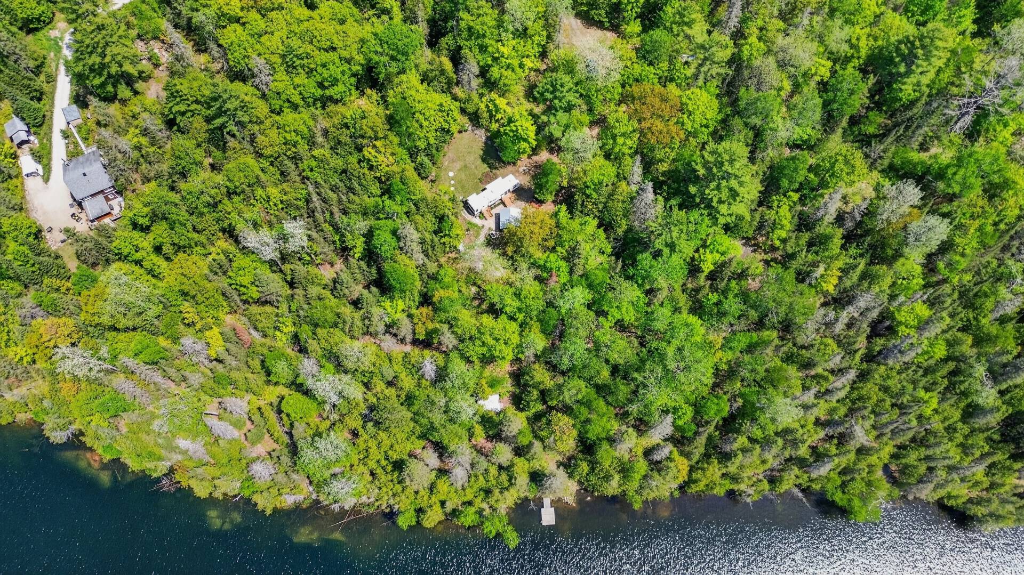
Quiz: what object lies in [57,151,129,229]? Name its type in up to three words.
house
